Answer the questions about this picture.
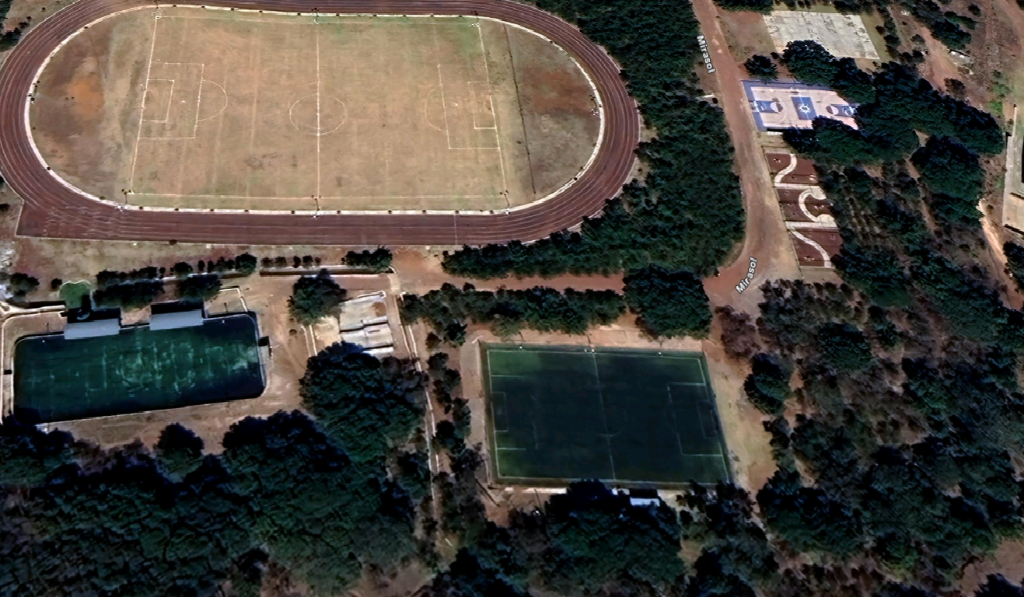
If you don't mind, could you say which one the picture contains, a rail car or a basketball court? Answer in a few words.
basketball court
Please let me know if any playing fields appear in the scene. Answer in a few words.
Yes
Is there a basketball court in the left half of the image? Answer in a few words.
No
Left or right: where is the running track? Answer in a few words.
left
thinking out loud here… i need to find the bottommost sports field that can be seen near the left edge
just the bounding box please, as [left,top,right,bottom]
[14,316,265,425]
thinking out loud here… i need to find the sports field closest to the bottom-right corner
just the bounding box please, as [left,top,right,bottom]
[476,343,735,492]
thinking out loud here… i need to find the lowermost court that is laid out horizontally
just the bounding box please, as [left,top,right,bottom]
[742,80,862,135]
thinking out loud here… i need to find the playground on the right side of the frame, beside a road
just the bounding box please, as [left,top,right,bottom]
[763,145,849,268]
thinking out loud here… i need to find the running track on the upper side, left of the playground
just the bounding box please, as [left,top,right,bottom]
[0,0,642,248]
